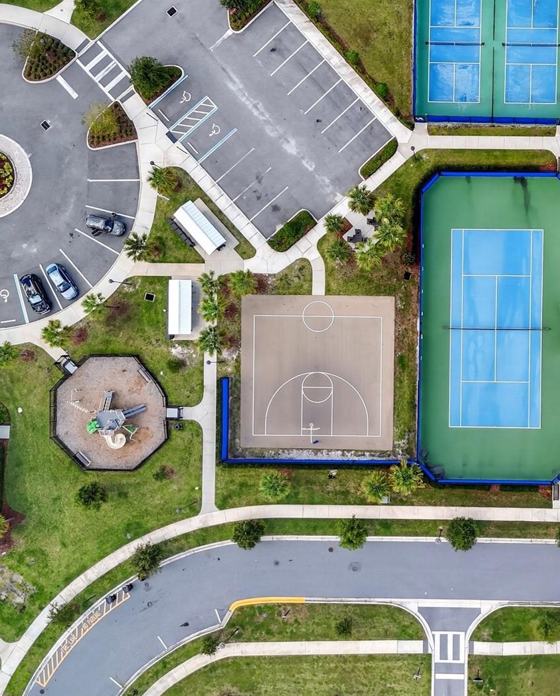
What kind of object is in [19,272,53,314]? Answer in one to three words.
car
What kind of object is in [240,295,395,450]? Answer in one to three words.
basketball court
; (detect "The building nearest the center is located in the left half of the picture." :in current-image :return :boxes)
[168,279,197,334]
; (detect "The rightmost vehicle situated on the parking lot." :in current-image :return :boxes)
[85,215,129,240]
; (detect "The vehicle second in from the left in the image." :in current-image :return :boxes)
[46,262,79,300]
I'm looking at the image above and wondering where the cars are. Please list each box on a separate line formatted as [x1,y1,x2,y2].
[46,262,79,300]
[85,215,129,240]
[19,272,53,314]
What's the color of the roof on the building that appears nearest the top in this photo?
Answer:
white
